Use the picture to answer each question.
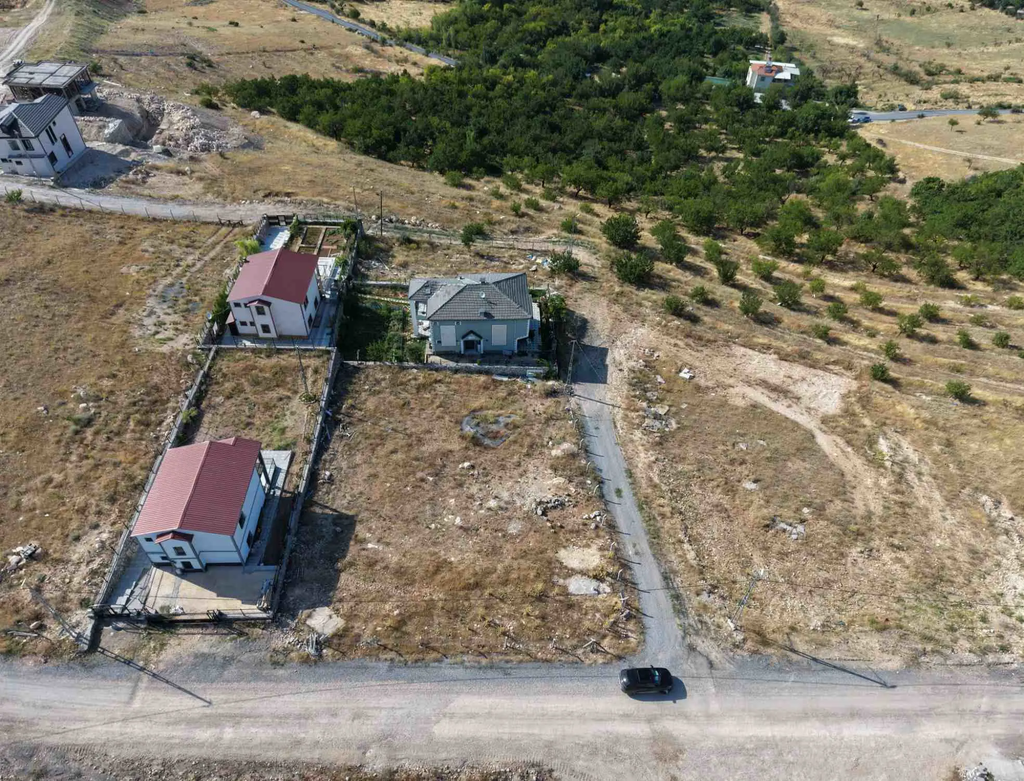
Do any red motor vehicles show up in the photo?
No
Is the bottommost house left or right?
left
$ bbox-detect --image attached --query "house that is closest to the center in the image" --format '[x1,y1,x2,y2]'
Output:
[408,271,533,359]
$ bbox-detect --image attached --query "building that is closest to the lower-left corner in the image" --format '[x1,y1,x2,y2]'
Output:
[127,437,273,571]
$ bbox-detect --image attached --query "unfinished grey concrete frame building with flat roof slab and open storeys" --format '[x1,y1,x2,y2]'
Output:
[1,61,115,126]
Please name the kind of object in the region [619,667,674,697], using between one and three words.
car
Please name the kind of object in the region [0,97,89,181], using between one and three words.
house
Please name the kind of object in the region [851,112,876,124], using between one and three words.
vehicle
